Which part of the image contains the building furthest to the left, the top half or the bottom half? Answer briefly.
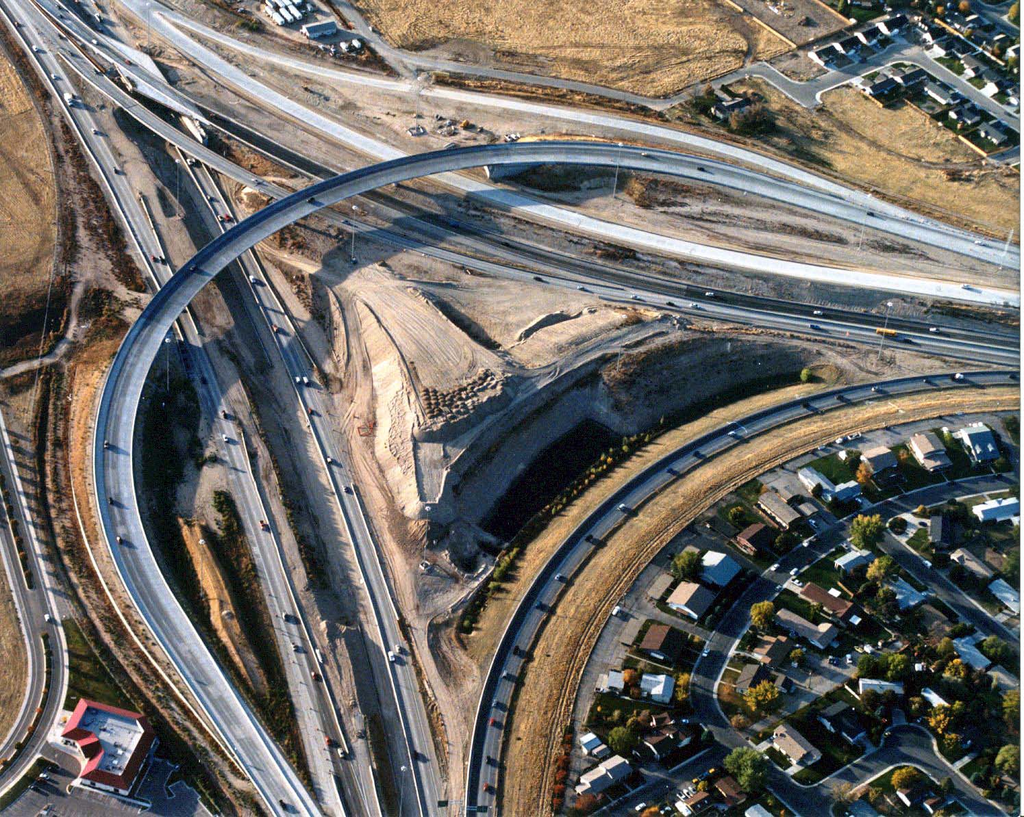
bottom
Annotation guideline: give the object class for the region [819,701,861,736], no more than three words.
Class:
house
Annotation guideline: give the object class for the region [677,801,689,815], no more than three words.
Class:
vehicle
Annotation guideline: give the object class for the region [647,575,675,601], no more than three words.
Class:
building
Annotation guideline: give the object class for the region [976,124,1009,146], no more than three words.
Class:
house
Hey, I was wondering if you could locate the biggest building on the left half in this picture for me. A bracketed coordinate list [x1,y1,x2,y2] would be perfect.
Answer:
[62,699,157,794]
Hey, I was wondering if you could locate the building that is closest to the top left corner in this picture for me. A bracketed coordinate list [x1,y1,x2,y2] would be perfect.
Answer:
[300,21,339,38]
